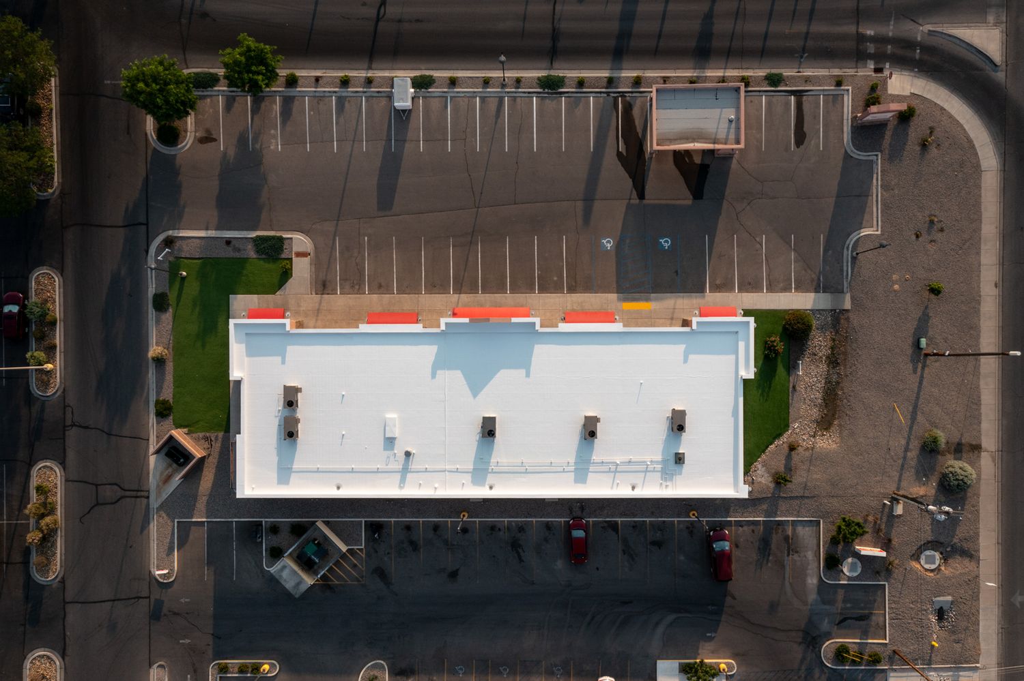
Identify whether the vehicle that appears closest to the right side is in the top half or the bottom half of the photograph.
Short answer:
bottom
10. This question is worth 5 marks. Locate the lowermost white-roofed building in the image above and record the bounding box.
[229,306,757,501]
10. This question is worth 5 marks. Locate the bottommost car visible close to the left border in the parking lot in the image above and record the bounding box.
[1,292,27,341]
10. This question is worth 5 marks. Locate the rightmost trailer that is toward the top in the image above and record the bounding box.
[393,79,417,124]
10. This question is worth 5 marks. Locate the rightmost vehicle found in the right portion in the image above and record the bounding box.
[707,526,733,581]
